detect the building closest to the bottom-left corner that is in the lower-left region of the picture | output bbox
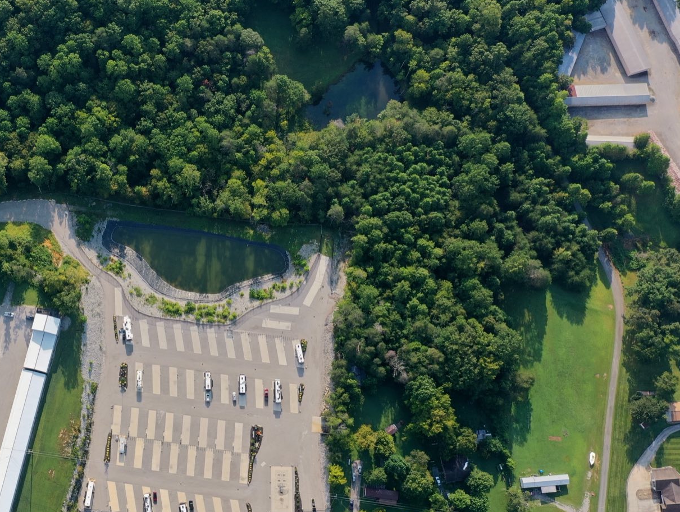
[0,369,47,512]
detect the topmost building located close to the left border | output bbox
[24,314,61,374]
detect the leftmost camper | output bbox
[81,479,94,510]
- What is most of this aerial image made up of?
trees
